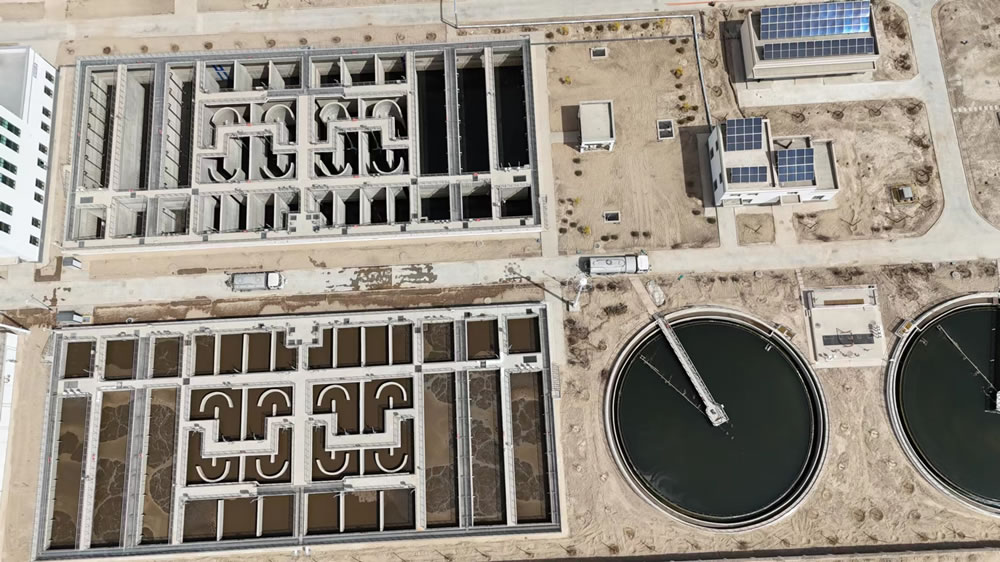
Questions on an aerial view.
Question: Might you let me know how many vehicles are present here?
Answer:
2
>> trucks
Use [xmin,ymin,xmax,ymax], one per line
[229,269,286,290]
[580,249,649,274]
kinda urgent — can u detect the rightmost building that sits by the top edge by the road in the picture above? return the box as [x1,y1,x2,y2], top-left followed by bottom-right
[740,0,886,79]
